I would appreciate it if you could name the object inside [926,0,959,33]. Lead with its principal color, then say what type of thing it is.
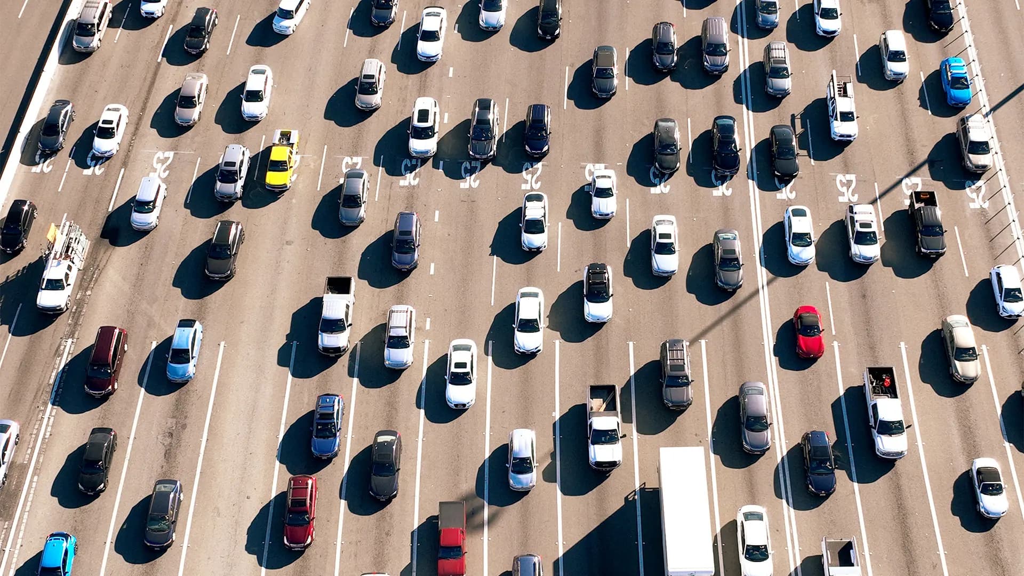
black car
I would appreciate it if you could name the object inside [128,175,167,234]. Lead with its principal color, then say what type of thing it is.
white car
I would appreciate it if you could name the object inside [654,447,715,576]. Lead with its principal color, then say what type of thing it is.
white truck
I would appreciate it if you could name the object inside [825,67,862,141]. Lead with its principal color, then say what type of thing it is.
white truck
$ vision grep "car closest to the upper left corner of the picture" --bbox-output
[73,0,111,54]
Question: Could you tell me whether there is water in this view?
No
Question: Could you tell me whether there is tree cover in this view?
No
